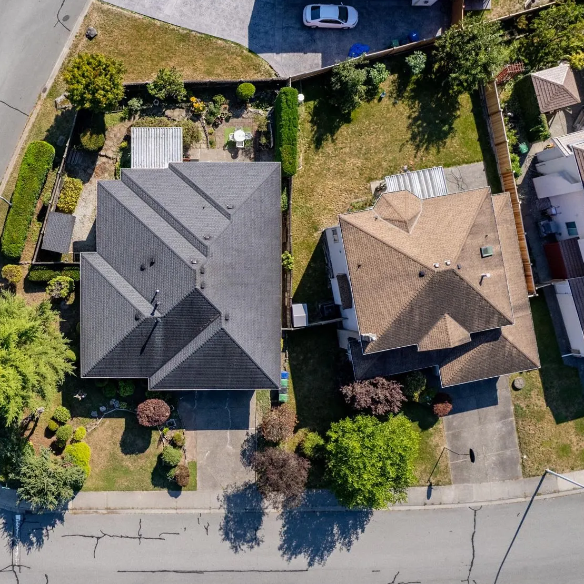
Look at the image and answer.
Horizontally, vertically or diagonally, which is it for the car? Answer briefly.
horizontally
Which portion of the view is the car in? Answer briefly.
top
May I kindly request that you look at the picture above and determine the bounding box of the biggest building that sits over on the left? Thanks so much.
[80,161,282,390]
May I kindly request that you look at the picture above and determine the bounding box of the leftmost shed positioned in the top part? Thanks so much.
[42,212,75,254]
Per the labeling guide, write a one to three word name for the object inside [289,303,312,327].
shed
